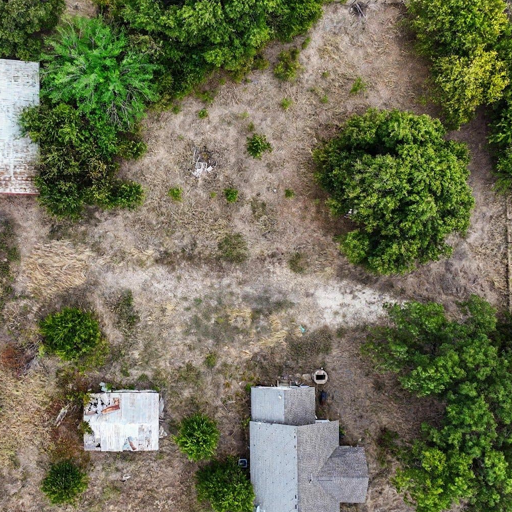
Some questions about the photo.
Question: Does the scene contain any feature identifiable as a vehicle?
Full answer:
No, this view has no vehicle in it.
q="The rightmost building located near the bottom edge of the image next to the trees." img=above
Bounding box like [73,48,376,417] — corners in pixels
[249,385,368,512]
